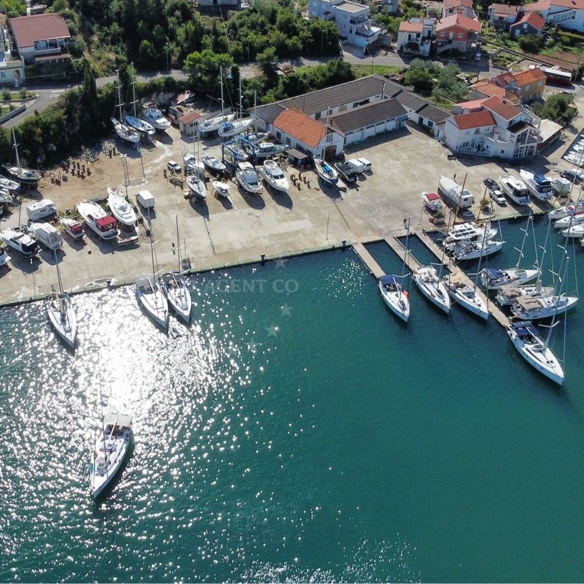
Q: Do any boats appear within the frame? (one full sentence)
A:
Yes, the frame does contain a boat.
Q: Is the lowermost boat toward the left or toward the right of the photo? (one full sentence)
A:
The lowermost boat appears in the left half of the scene.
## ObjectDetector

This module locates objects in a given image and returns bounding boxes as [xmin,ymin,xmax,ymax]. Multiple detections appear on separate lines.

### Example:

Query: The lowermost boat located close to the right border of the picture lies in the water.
[507,273,565,381]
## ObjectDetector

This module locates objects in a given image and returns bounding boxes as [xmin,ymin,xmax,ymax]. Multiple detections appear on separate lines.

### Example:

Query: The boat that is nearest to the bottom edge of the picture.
[91,356,136,497]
